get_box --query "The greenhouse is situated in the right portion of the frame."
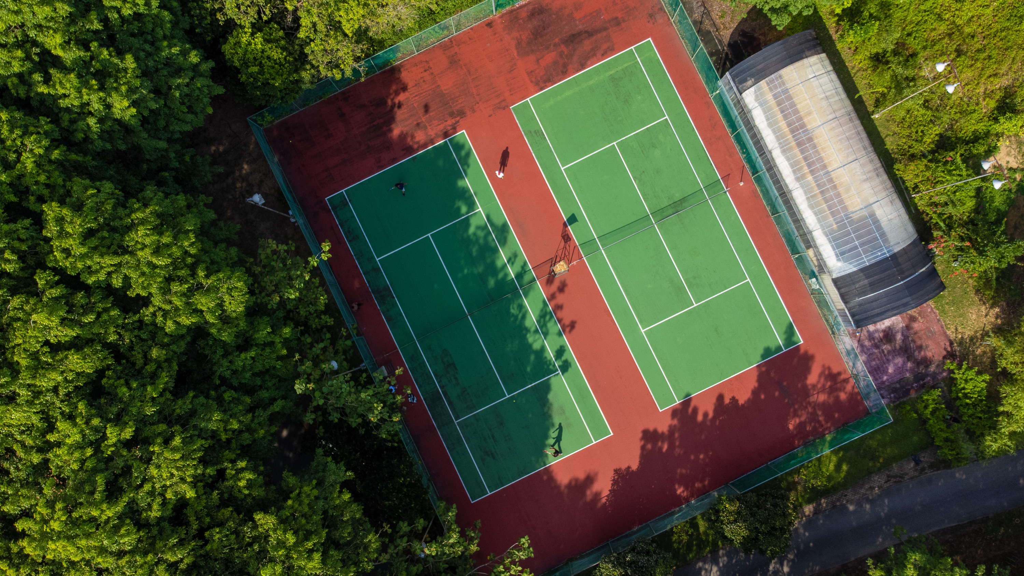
[724,29,945,328]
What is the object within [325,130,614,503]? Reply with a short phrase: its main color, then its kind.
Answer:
green tennis court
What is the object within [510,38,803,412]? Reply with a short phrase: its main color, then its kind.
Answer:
green tennis court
